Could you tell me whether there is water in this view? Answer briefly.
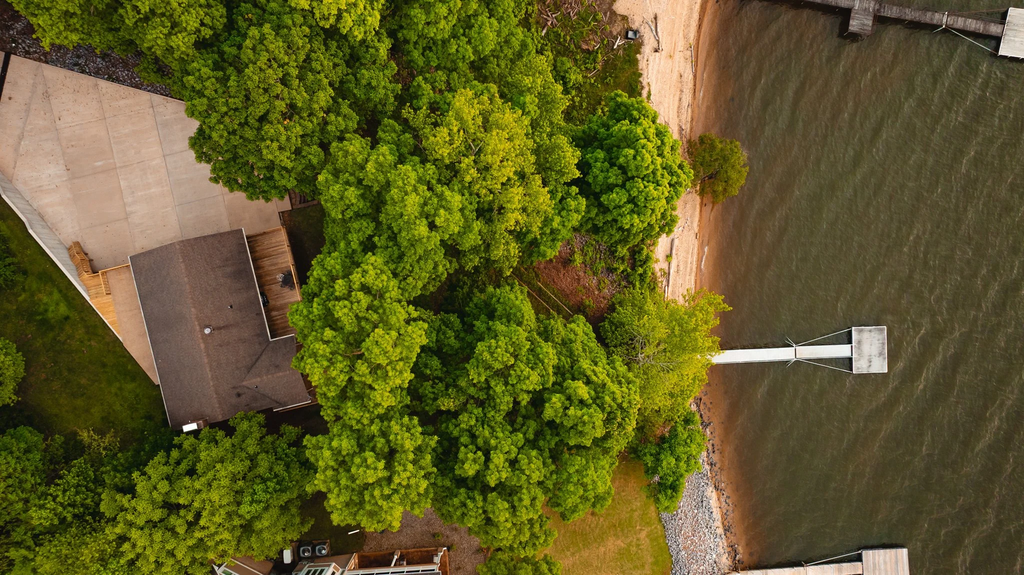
Yes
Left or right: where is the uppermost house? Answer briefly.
left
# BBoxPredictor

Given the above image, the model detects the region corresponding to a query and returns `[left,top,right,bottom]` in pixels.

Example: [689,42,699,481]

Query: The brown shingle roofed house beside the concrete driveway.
[128,229,312,433]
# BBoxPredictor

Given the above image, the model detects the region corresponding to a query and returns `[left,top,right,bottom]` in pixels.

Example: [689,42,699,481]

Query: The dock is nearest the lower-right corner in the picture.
[733,547,910,575]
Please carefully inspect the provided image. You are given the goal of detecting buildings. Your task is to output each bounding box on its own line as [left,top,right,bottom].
[193,539,450,575]
[128,229,312,433]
